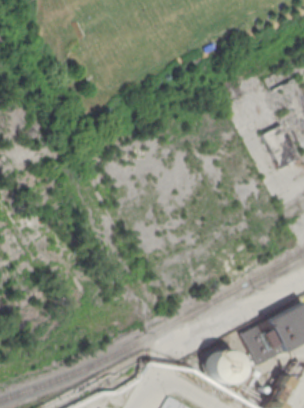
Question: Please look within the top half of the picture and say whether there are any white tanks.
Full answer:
No, no white tank is visible within the top half of the picture.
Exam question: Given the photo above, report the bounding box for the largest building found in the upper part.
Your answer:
[260,124,304,169]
